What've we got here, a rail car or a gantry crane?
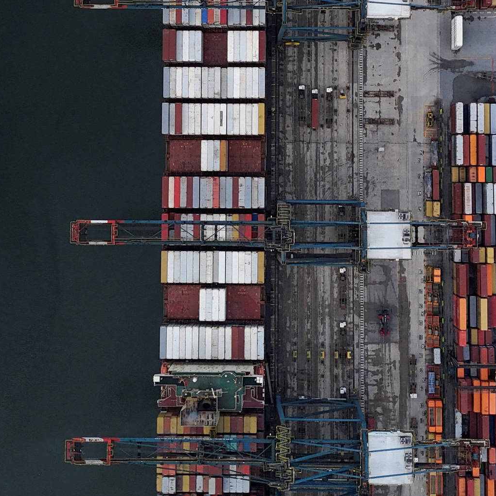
gantry crane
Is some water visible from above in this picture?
Yes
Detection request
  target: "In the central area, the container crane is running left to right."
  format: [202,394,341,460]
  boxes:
[66,185,485,278]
